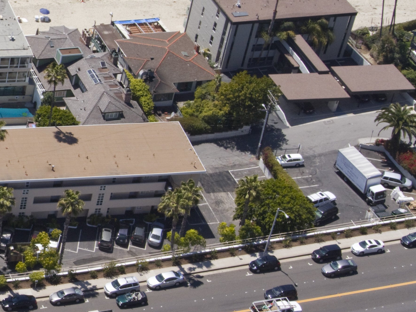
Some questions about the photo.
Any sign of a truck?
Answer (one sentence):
Yes, the frame does contain a truck.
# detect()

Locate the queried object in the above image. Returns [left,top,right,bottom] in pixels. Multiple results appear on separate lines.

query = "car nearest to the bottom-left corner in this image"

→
[0,294,38,311]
